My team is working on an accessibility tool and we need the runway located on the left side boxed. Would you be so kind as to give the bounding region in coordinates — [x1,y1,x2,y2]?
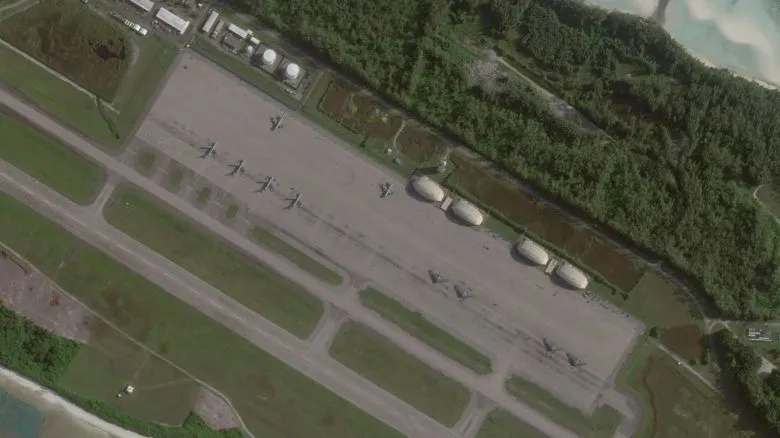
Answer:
[0,158,452,438]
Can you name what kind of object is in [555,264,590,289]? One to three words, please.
hangar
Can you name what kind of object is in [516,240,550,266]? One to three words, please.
hangar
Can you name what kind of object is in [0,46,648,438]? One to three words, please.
airport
